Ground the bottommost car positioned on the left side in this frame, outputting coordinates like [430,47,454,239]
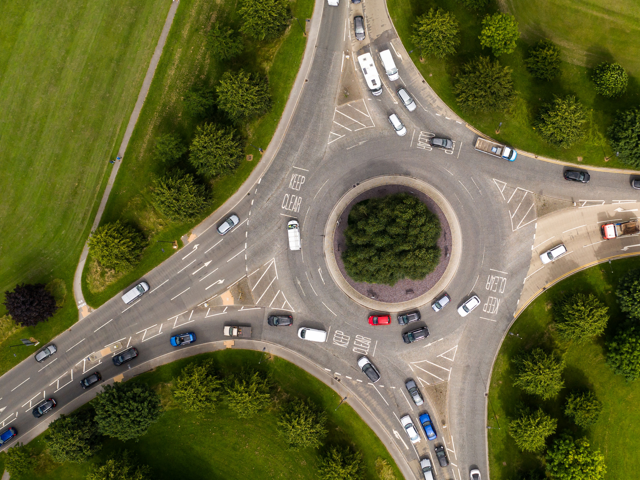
[0,426,19,447]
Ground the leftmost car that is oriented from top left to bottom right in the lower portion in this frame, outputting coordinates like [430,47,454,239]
[357,355,382,385]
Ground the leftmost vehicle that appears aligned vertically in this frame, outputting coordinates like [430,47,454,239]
[287,219,302,251]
